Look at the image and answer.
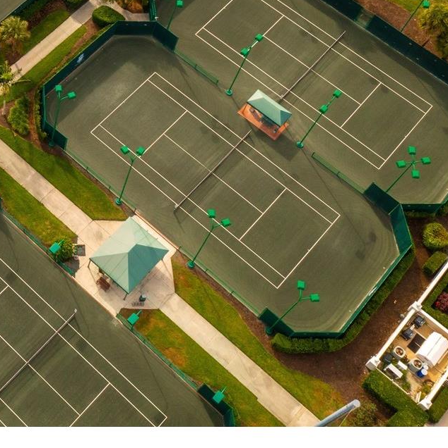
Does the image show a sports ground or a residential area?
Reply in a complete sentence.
What you see here is a sports ground.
